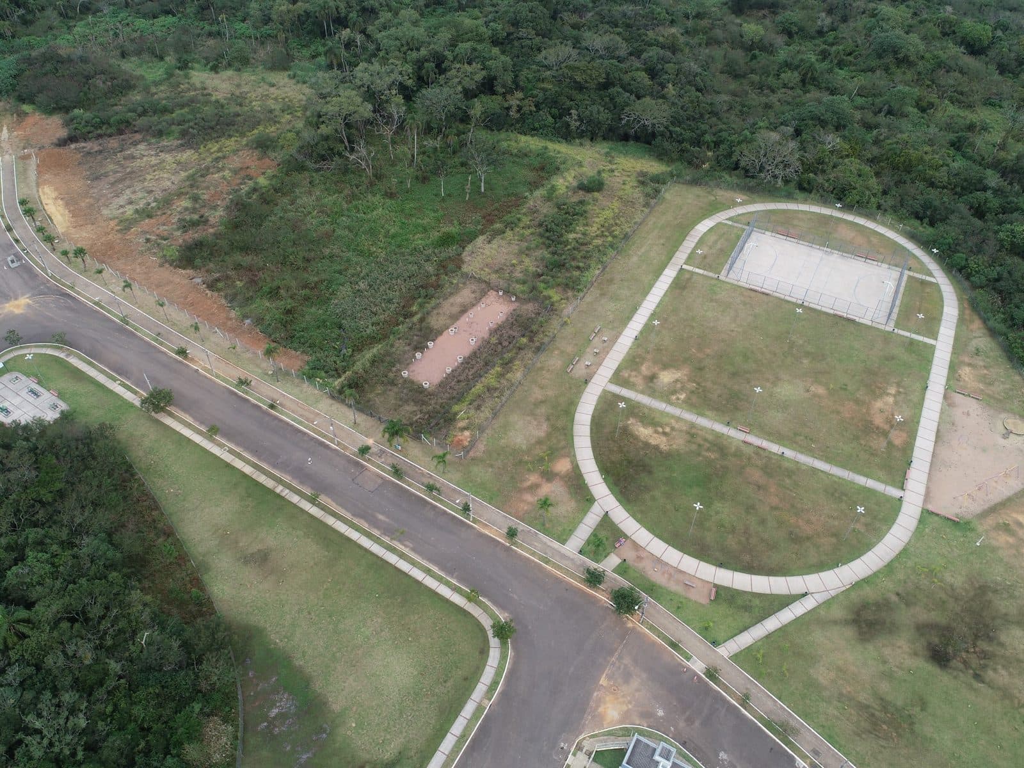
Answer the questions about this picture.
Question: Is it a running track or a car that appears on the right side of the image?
running track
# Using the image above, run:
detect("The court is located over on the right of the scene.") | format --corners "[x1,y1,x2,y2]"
[722,232,908,326]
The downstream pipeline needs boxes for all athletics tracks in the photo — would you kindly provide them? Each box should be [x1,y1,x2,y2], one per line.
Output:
[573,202,959,594]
